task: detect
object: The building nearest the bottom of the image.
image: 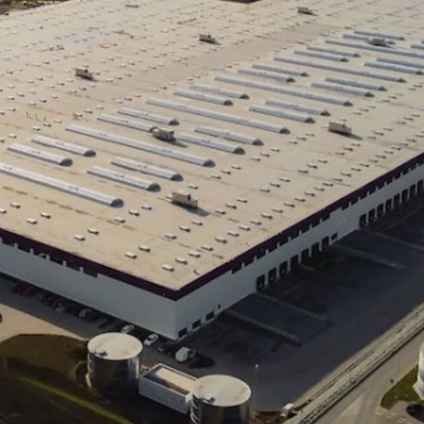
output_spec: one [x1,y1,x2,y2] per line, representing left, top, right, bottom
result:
[138,361,198,415]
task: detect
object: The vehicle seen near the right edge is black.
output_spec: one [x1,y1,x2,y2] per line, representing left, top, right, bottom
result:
[406,399,424,415]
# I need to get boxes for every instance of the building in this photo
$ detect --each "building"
[0,0,424,339]
[138,361,198,415]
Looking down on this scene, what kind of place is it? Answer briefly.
industrial area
